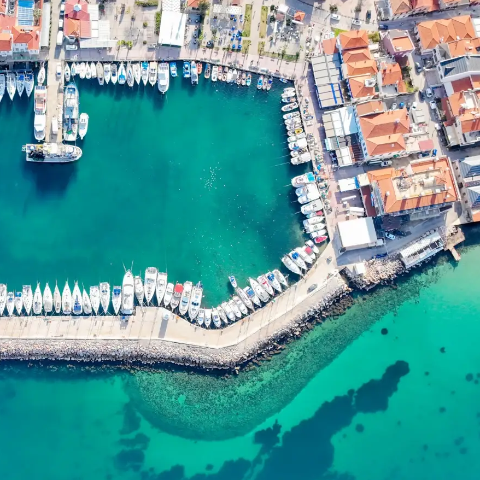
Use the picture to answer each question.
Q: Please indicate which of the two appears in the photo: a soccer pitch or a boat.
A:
boat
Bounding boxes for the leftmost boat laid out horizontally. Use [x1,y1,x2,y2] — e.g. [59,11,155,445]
[26,143,82,162]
